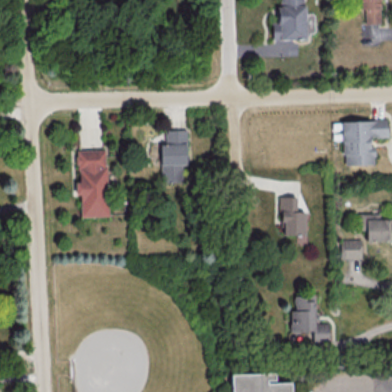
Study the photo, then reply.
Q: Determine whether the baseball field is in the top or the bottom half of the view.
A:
bottom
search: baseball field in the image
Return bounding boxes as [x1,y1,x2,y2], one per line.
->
[55,262,206,392]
